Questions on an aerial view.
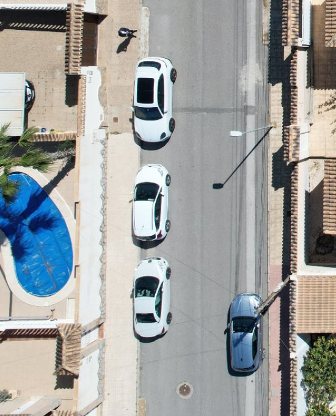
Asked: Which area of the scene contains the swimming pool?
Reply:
left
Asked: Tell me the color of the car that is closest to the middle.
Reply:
white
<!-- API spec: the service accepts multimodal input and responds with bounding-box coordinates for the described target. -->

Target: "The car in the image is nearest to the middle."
[131,164,174,240]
